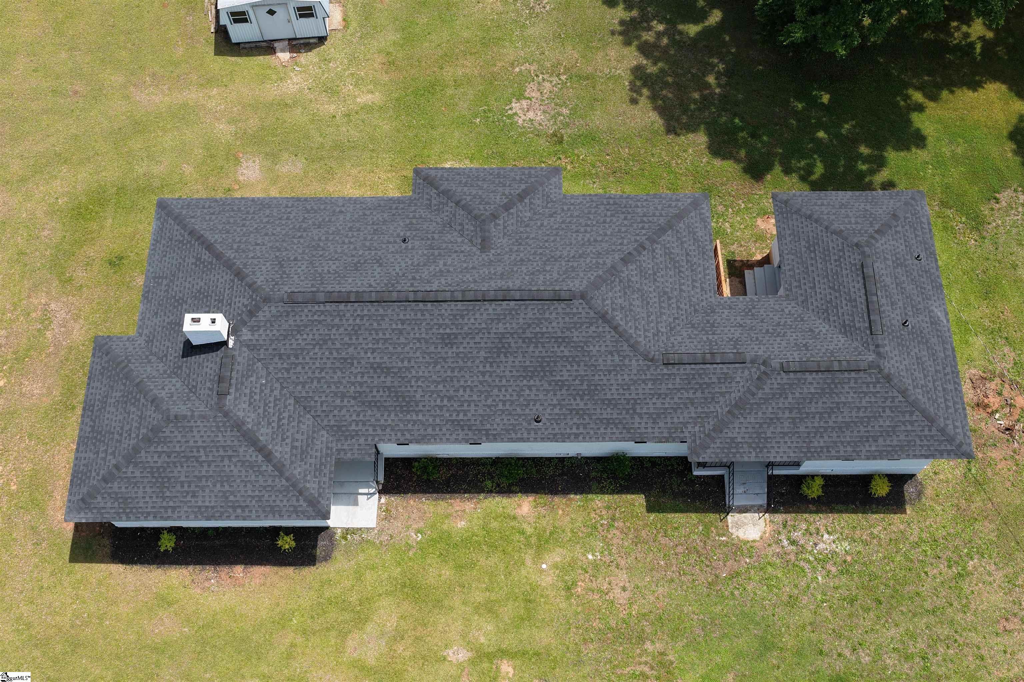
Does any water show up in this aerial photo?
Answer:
No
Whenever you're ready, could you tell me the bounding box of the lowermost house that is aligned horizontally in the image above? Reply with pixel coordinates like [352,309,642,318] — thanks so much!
[64,165,974,530]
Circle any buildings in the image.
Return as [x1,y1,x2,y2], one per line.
[217,0,330,45]
[64,165,974,530]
